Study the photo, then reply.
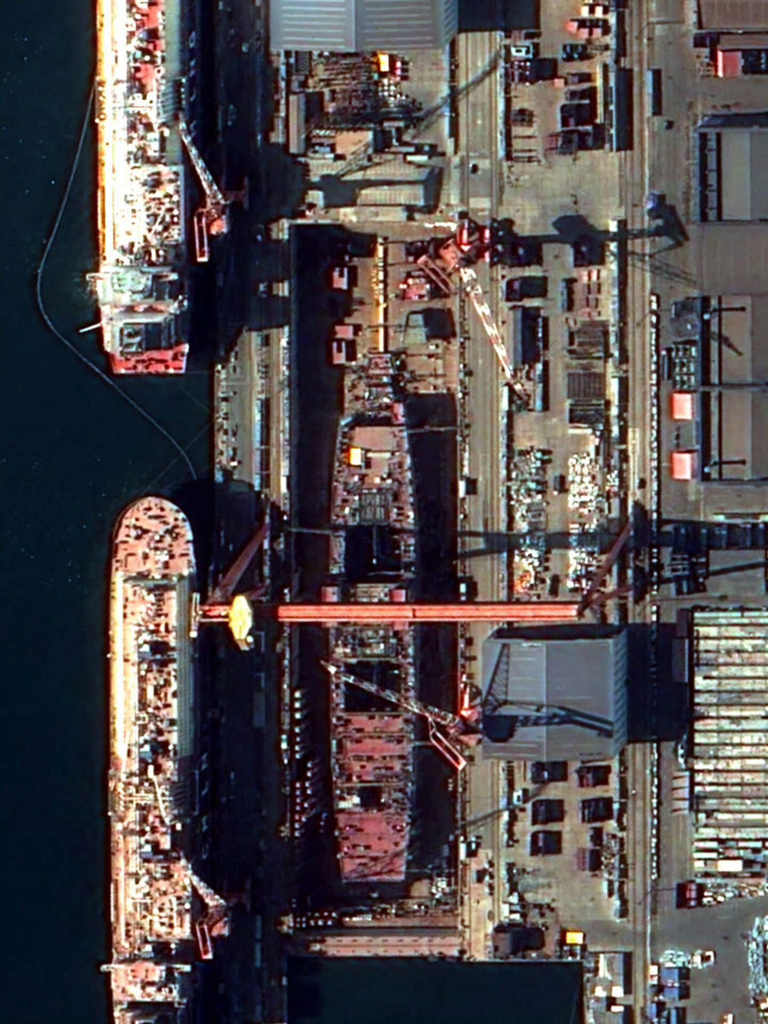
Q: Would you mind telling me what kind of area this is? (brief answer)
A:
port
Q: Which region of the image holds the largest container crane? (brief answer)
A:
center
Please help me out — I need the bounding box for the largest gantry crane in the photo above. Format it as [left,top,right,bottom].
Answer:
[191,512,632,649]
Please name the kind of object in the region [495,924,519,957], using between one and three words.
building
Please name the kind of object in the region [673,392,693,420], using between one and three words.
shed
